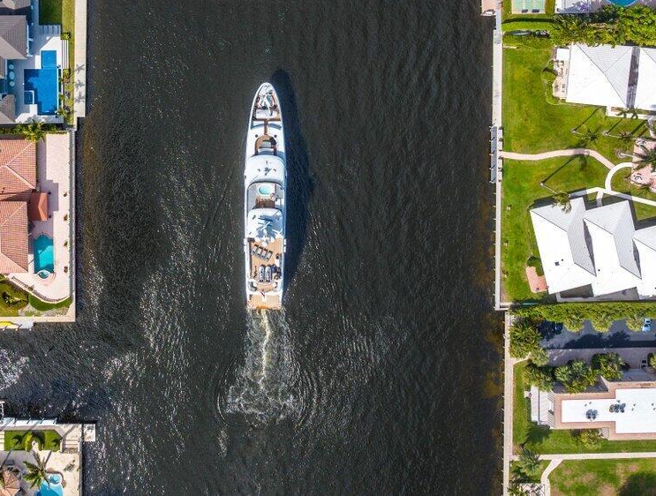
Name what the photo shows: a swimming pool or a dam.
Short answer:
swimming pool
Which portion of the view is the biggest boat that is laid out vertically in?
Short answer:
center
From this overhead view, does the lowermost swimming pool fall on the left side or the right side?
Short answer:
left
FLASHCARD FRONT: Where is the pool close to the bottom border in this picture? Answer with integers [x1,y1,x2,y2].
[35,473,64,496]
